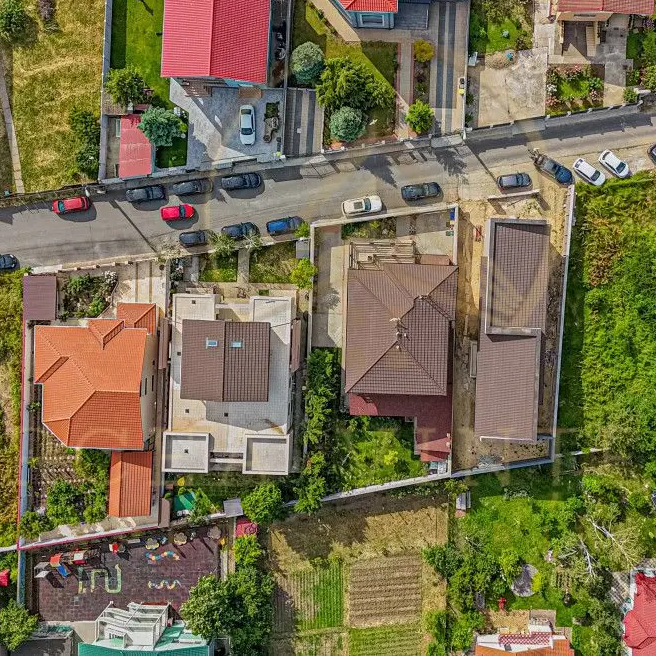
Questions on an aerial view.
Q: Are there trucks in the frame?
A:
Yes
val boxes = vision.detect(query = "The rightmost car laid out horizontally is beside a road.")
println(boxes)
[497,173,530,190]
